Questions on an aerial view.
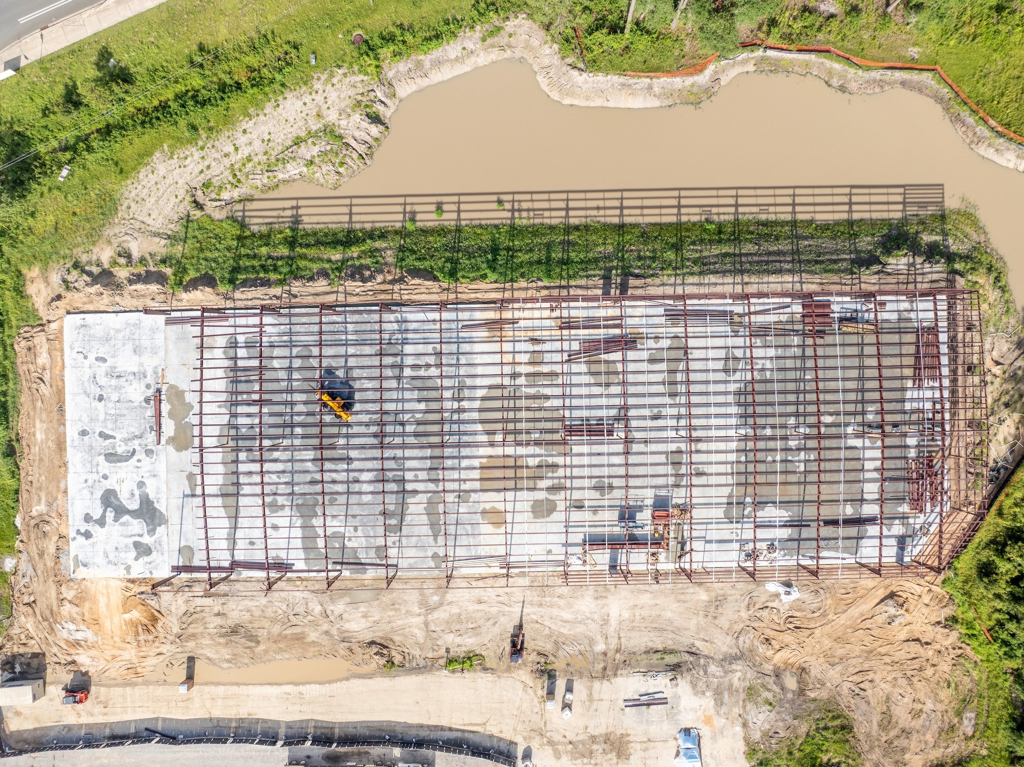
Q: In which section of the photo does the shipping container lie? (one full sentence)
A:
The shipping container is located in the bottom left region of the scene.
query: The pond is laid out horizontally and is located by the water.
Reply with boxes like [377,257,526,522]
[230,58,1024,312]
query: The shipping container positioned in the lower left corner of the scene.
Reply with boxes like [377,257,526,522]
[0,677,45,704]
